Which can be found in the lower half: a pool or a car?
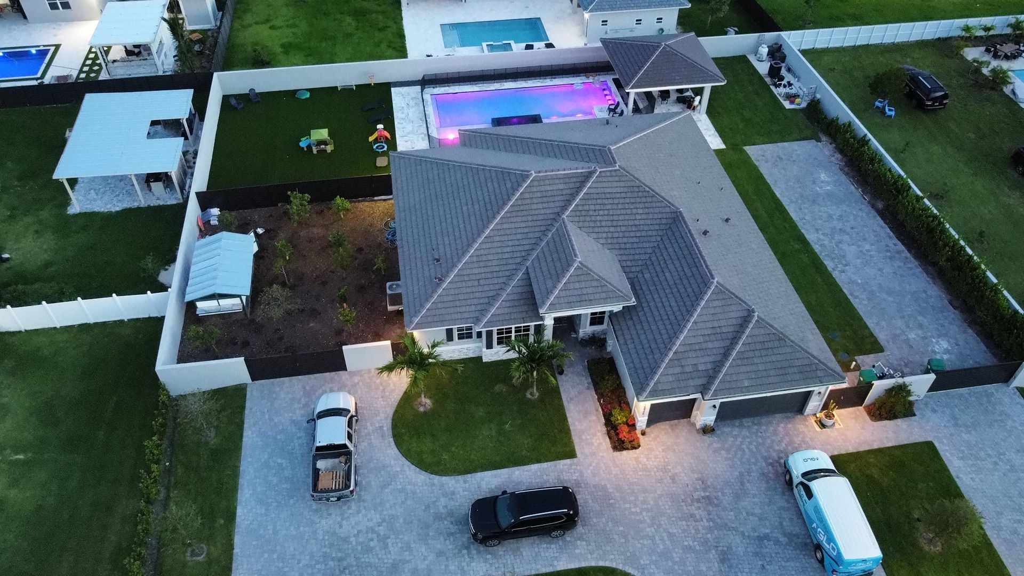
car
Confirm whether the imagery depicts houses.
Yes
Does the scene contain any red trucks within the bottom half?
No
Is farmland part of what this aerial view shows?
No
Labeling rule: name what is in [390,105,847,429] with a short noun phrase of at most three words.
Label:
house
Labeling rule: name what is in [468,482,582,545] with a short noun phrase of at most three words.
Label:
car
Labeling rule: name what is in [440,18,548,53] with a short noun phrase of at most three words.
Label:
swimming pool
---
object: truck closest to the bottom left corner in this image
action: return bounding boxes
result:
[306,393,360,511]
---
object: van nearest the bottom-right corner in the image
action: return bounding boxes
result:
[786,451,880,576]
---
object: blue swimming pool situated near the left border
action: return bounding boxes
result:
[0,41,64,86]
